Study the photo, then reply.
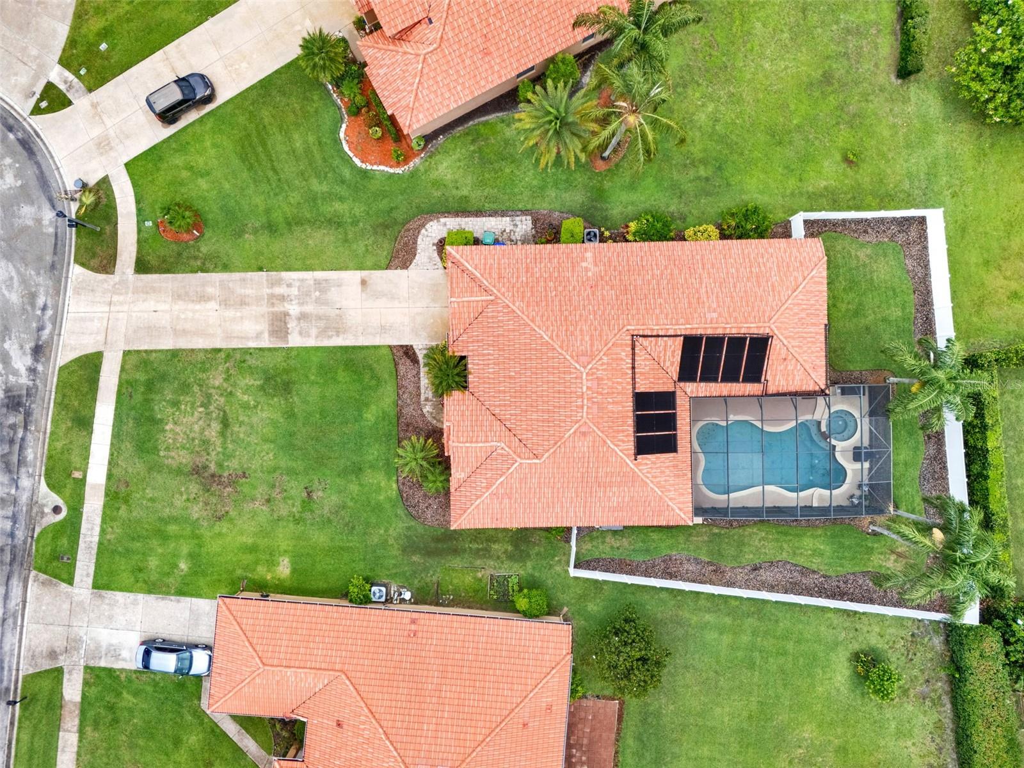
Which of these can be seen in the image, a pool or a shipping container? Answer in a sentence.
Visible in the photo is a pool.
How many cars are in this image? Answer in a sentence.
The number of cars here is 2.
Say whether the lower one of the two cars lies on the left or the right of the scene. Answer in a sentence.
The lower one of the two cars appears in the left half of the scene.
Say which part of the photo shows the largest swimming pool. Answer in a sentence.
You can find the largest swimming pool in the right area of the picture.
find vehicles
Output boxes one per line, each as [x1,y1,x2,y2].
[143,72,216,125]
[136,636,212,678]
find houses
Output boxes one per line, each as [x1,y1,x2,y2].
[442,237,830,531]
[355,0,681,140]
[206,580,574,768]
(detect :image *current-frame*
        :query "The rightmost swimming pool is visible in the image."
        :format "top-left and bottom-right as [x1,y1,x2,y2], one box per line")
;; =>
[693,404,866,500]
